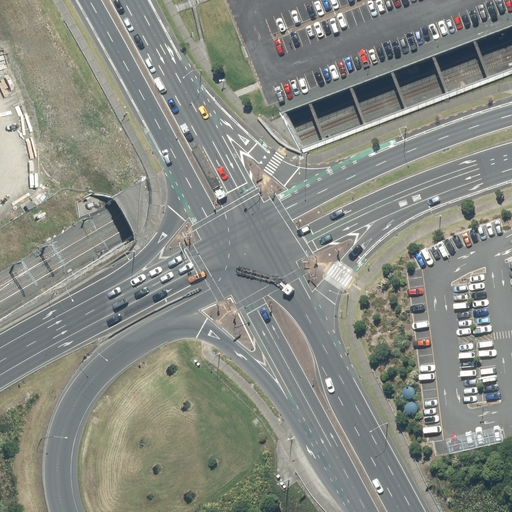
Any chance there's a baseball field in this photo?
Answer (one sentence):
No, no baseball field can be seen from above.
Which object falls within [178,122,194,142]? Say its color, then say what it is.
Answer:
white vehicle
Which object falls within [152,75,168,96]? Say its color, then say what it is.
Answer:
white vehicle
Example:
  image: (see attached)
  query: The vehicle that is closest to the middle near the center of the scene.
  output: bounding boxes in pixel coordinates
[238,264,292,295]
